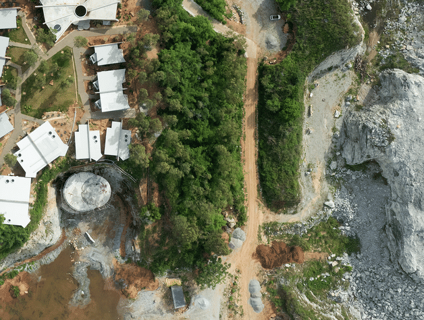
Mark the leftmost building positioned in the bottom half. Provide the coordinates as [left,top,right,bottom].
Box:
[0,174,34,228]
